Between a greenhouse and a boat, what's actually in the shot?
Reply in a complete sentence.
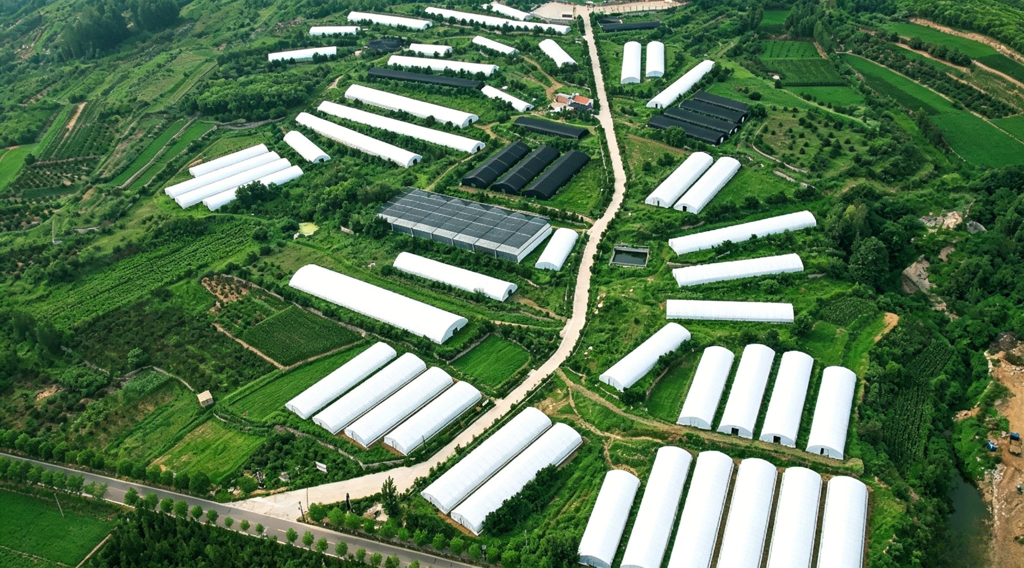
This aerial view contains a greenhouse.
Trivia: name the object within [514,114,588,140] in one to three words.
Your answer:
greenhouse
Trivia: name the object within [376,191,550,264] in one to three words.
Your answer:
building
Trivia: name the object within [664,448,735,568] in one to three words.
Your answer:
greenhouse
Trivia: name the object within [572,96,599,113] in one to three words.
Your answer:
house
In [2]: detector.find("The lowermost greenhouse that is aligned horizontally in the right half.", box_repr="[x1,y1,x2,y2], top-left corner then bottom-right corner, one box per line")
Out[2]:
[666,298,795,323]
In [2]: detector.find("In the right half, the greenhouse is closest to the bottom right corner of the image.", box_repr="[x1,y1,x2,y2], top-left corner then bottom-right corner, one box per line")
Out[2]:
[820,470,872,568]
